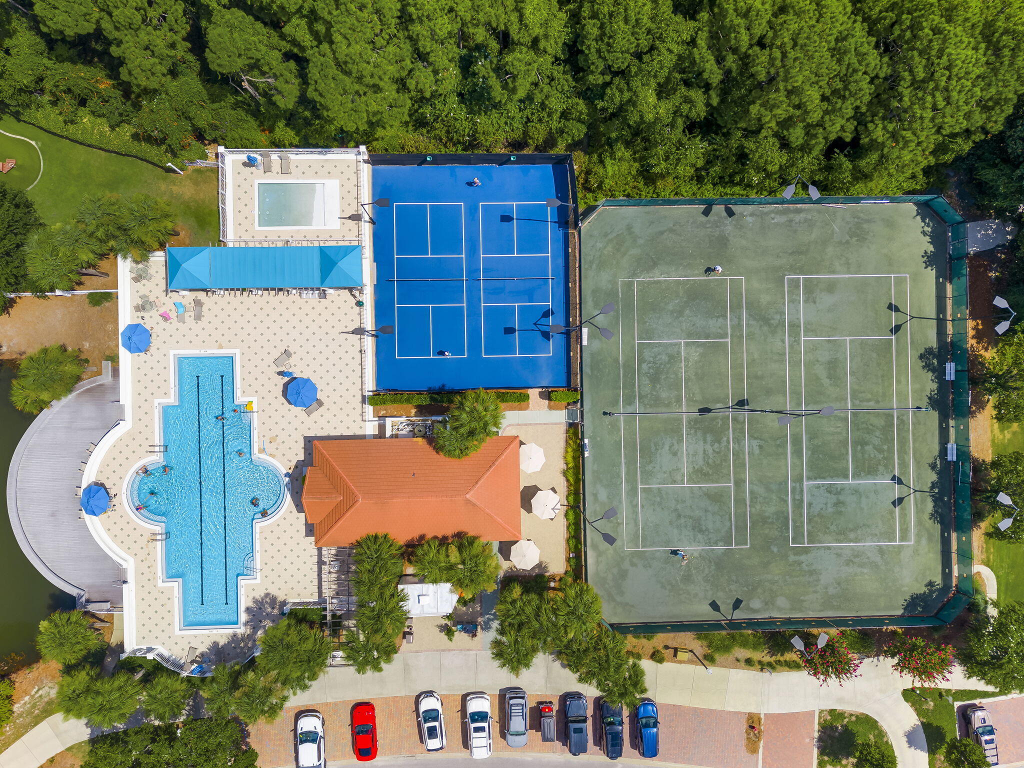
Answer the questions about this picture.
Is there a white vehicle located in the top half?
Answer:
No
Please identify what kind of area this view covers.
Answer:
sports ground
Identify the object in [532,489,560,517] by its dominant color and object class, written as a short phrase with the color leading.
white umbrella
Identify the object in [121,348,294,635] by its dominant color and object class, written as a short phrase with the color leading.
blue swimming pool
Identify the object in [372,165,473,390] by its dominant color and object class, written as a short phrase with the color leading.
blue sports court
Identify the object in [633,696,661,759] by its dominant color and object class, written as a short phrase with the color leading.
blue car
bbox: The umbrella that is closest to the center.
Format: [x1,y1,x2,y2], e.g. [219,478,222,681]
[521,444,545,471]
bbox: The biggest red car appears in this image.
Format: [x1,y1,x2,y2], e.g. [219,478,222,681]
[350,700,379,762]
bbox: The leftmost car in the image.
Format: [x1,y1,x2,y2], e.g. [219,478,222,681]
[295,709,325,768]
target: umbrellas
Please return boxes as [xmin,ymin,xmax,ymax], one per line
[287,376,319,407]
[123,324,155,353]
[83,485,116,514]
[510,539,540,569]
[532,489,560,517]
[521,444,545,471]
[286,370,299,378]
[196,657,213,672]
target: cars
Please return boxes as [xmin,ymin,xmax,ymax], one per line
[960,703,1008,768]
[295,709,325,768]
[564,691,591,757]
[350,700,379,762]
[465,690,494,761]
[595,694,625,761]
[416,690,448,755]
[503,686,530,747]
[633,696,661,759]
